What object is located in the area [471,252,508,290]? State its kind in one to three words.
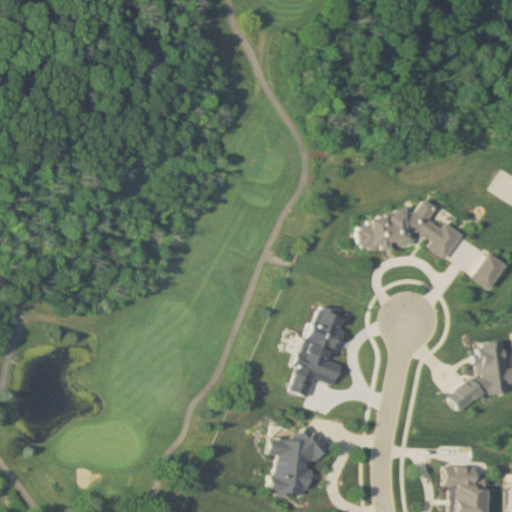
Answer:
building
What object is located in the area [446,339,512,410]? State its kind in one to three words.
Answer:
house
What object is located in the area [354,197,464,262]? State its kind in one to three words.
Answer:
house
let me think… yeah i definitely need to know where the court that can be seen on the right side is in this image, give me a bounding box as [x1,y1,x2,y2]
[486,171,512,218]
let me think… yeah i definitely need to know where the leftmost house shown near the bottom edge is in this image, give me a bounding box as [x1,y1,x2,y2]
[264,426,327,496]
